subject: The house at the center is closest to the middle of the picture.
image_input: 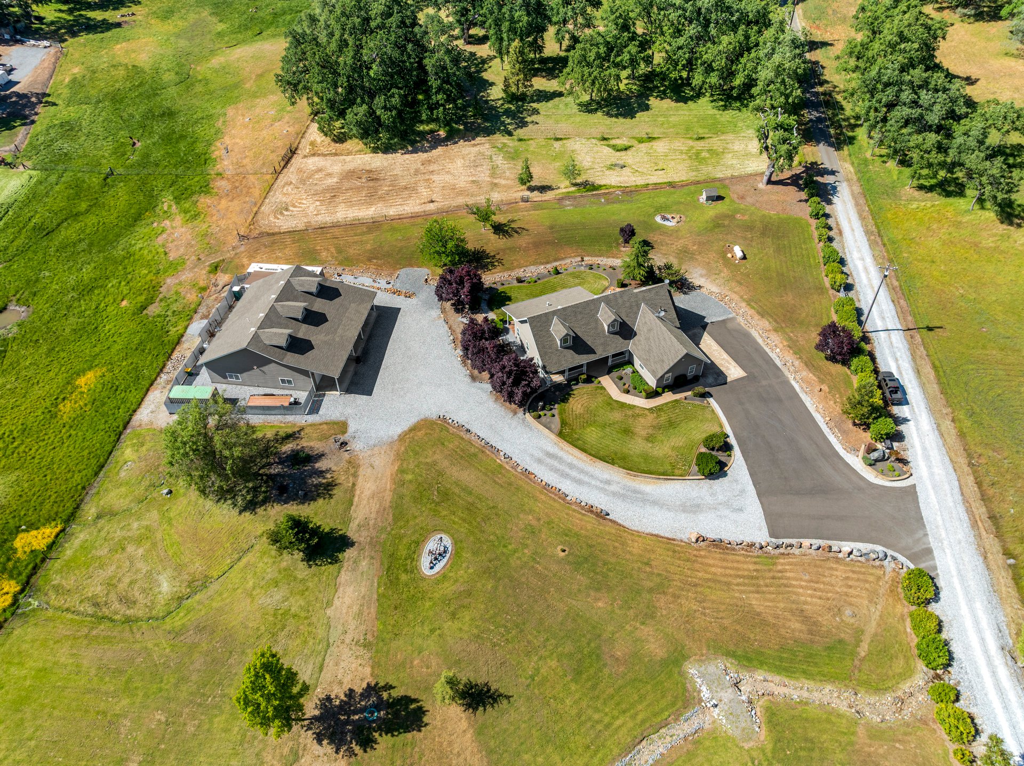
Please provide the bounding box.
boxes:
[502,276,711,388]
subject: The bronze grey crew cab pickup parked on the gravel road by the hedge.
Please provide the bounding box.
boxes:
[883,373,910,408]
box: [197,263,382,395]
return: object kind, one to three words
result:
building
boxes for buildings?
[197,263,382,395]
[502,276,711,388]
[700,186,718,201]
